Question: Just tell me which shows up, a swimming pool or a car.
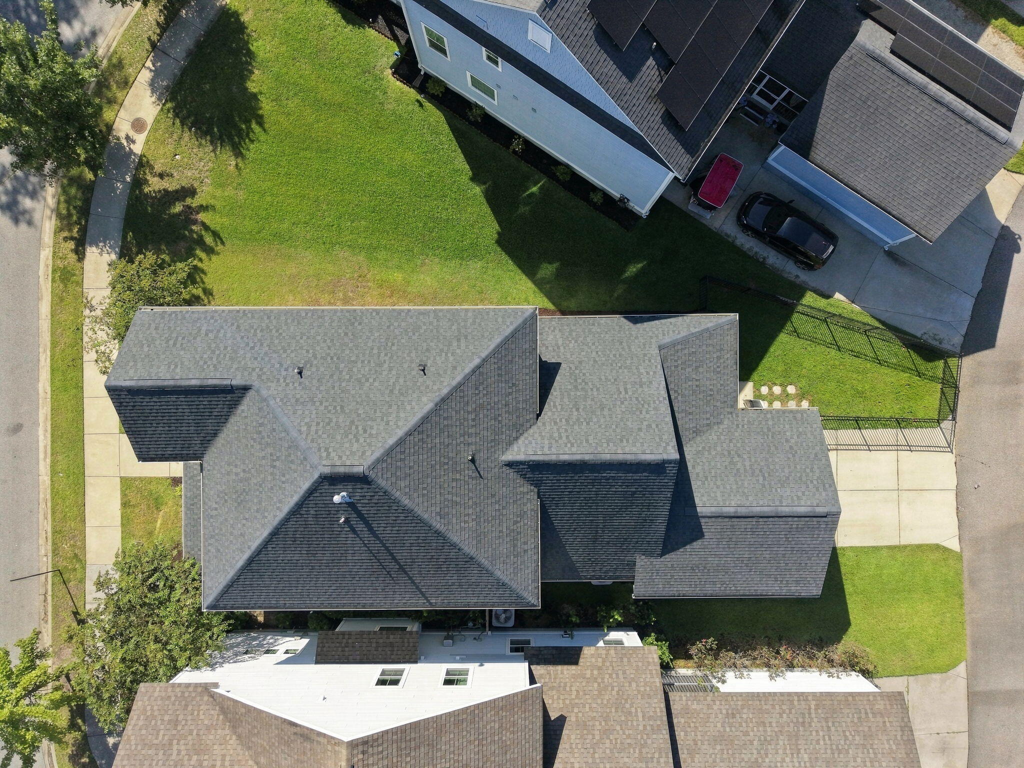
car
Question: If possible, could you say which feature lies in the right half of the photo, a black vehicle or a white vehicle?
black vehicle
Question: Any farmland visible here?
No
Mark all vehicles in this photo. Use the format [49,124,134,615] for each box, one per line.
[735,191,844,274]
[684,152,744,224]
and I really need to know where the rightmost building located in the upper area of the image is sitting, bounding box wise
[737,0,1024,255]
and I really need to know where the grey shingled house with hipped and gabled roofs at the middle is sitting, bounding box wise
[107,302,843,612]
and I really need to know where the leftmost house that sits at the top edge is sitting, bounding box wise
[387,0,813,218]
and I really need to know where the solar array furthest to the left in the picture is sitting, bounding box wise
[587,0,773,131]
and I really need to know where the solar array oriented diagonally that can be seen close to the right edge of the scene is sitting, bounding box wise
[847,0,1024,130]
